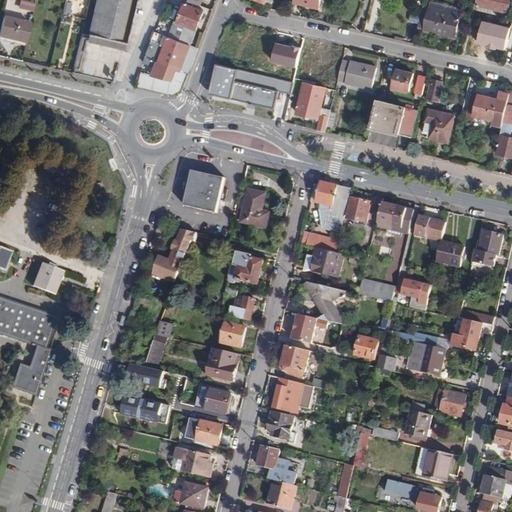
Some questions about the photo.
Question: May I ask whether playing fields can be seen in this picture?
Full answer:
No, I find no playing field anywhere in the image.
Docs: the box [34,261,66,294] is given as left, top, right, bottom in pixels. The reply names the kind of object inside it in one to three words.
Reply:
building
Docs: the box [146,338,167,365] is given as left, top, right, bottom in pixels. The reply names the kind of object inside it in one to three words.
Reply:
shed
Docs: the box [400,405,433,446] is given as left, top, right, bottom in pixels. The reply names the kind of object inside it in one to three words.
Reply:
house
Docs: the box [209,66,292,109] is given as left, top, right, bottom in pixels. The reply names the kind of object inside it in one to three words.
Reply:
building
